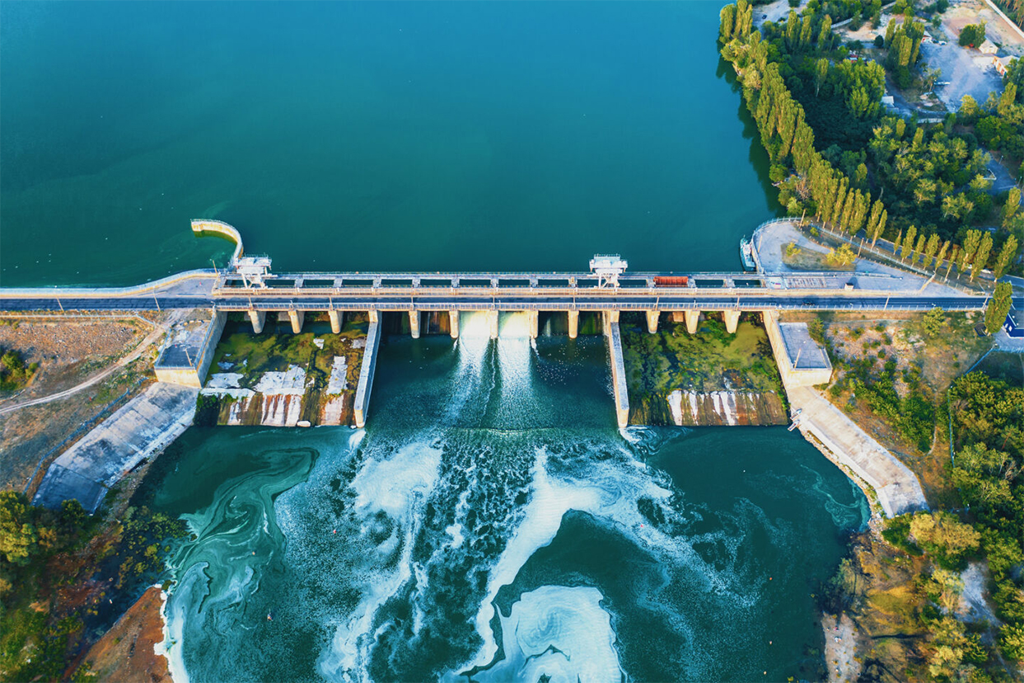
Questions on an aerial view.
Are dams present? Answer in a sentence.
Yes, the image includes a dam.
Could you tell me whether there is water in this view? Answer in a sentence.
Yes, there is water in the image.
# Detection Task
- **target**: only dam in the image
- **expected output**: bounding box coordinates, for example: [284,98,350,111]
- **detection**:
[193,272,924,428]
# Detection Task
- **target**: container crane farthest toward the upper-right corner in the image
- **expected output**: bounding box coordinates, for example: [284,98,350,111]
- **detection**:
[589,249,630,288]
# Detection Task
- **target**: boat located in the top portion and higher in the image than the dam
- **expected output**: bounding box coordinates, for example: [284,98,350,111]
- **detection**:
[740,234,756,271]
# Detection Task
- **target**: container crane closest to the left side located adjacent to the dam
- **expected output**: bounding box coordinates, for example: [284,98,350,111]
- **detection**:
[229,249,274,288]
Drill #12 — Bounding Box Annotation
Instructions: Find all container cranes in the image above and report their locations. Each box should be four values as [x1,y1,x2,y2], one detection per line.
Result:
[589,249,630,288]
[229,249,274,288]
